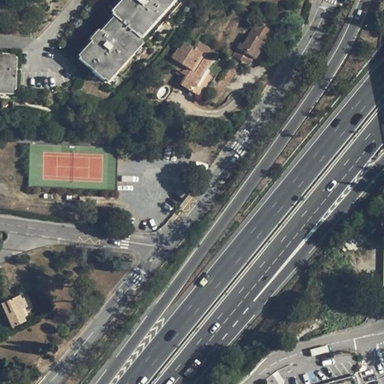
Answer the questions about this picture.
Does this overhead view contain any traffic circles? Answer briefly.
No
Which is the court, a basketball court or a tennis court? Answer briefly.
tennis court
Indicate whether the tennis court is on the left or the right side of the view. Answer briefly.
left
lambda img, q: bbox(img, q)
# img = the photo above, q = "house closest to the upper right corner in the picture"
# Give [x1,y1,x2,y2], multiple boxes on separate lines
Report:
[236,20,272,60]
